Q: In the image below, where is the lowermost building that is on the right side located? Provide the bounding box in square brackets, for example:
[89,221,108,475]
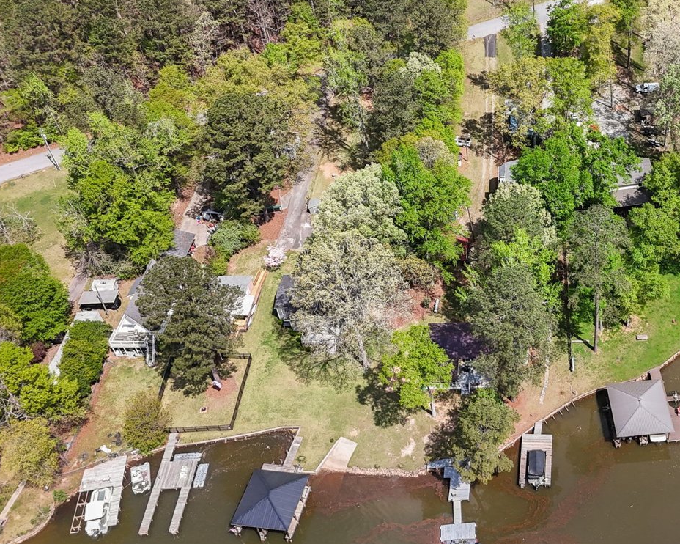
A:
[604,379,677,457]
